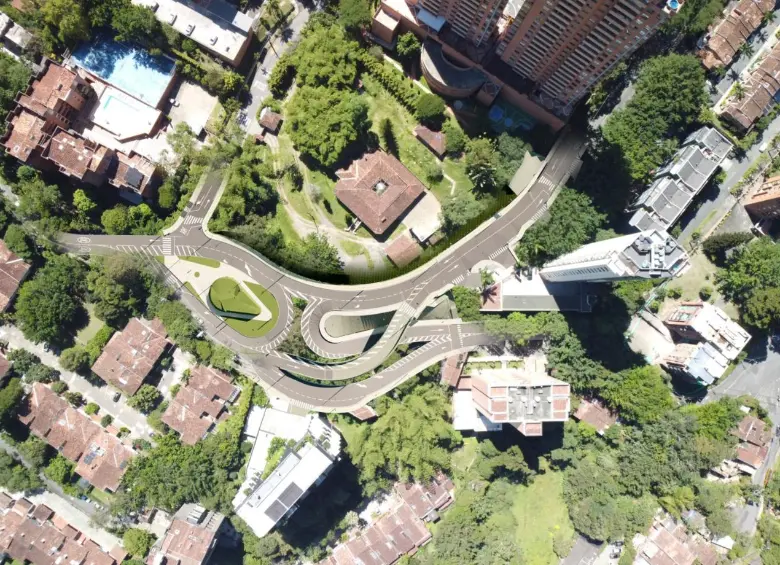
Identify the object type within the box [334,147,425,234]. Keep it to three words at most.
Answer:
house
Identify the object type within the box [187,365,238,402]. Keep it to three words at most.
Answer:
house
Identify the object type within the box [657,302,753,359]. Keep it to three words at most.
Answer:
building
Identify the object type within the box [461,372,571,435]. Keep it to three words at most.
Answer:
building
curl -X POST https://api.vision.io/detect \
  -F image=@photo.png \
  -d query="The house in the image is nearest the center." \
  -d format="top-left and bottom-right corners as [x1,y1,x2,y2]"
[385,235,422,267]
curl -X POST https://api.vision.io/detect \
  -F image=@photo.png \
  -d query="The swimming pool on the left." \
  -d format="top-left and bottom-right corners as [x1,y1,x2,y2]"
[88,86,165,145]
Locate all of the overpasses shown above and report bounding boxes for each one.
[277,303,417,380]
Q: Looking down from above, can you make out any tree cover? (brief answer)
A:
Yes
